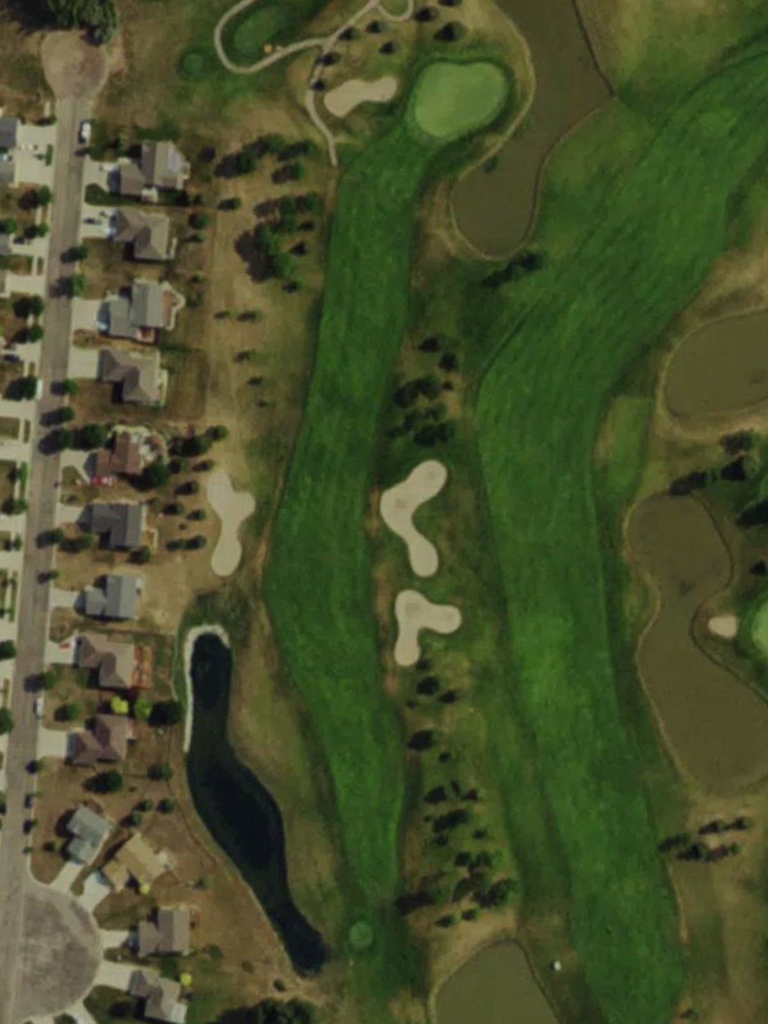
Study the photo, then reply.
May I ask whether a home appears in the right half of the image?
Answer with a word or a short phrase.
No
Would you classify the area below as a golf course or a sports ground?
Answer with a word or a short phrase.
golf course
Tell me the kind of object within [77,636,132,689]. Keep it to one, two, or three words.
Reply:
house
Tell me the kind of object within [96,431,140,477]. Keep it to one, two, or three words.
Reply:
house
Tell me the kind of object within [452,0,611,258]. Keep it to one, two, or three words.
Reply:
pond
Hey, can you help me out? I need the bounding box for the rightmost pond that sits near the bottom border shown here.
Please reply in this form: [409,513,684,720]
[436,939,557,1024]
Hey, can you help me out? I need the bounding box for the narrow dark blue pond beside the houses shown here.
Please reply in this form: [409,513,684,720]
[187,633,326,972]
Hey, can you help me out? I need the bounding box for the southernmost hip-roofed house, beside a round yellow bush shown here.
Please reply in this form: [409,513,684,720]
[131,973,186,1024]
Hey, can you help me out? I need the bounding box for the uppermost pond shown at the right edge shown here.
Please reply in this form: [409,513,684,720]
[665,309,768,417]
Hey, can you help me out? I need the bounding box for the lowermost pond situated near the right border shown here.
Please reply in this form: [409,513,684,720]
[625,491,768,793]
